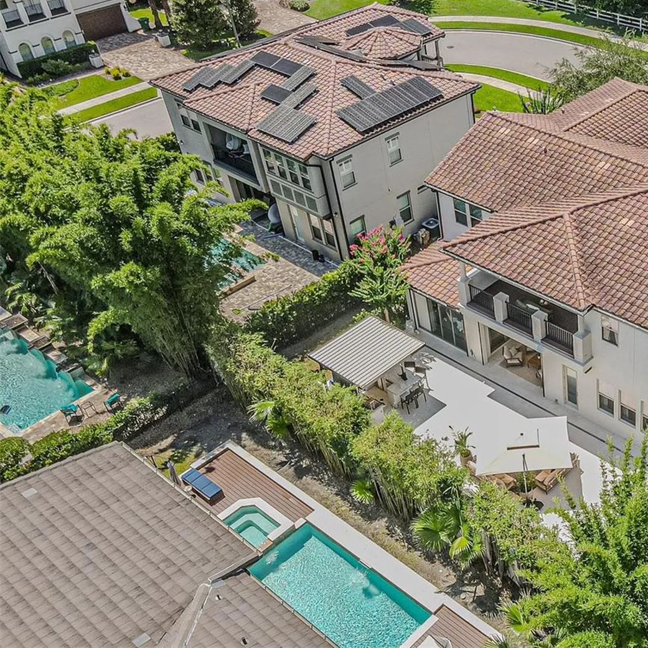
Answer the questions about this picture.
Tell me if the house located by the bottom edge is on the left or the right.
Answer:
left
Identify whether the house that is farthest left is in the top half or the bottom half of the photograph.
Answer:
top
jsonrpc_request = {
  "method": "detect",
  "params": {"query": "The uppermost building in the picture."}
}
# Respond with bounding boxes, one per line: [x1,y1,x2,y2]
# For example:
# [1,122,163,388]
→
[0,0,141,78]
